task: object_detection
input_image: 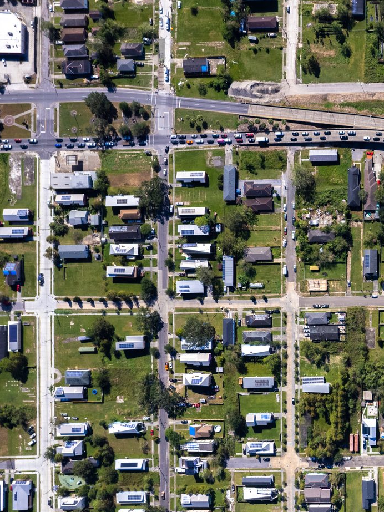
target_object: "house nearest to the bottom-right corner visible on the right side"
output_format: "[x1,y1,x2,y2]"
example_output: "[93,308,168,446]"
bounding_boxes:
[362,476,377,512]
